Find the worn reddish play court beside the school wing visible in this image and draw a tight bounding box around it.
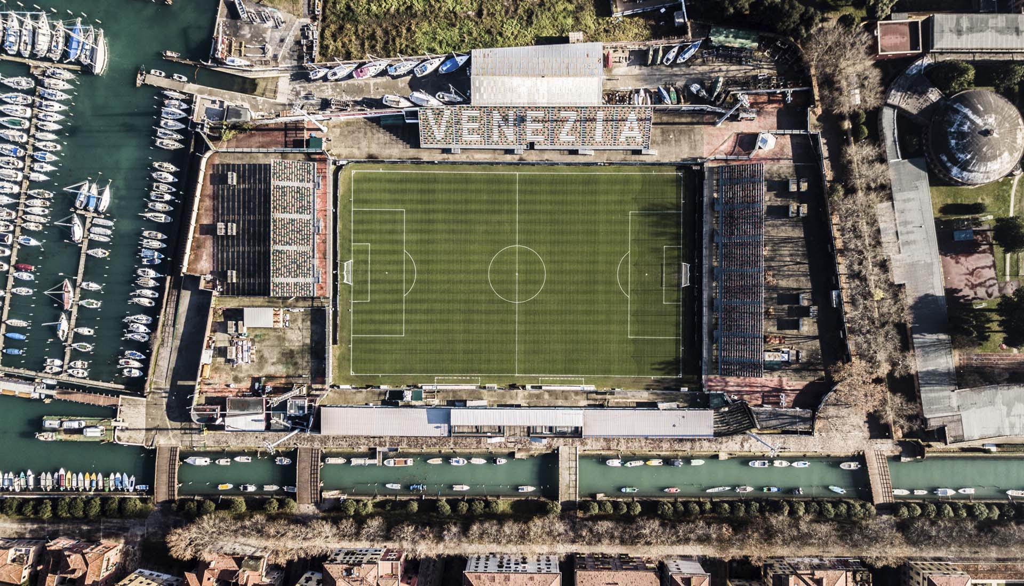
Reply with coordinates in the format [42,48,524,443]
[940,225,998,304]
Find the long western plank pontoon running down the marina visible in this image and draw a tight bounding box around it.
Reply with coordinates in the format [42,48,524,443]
[0,73,40,378]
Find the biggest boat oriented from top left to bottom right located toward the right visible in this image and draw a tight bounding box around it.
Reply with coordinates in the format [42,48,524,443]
[688,83,711,102]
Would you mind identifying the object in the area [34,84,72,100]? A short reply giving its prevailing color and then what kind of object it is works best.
white boat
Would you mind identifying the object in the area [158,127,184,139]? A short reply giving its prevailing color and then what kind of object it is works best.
white boat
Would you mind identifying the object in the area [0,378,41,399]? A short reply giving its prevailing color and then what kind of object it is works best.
white ship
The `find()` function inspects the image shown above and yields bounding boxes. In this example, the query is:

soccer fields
[333,163,702,388]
